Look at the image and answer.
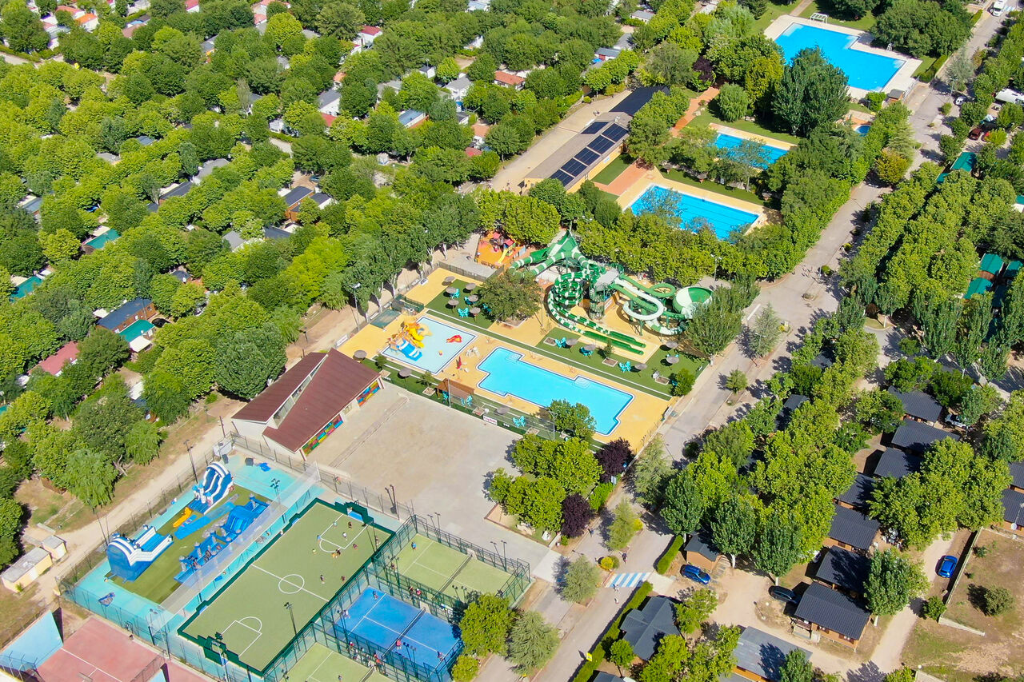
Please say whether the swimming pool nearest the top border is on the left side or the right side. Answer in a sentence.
The swimming pool nearest the top border appears in the right half of the scene.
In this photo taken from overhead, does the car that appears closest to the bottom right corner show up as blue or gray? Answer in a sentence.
The car that appears closest to the bottom right corner is blue.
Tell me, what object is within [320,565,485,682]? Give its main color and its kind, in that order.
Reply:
blue sports court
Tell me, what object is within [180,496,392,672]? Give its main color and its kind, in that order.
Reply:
green sports court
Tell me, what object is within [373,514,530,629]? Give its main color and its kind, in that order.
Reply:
green sports court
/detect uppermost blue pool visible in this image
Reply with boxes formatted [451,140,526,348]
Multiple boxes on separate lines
[759,21,909,93]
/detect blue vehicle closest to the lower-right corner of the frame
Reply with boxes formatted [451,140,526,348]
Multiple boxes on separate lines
[937,553,958,576]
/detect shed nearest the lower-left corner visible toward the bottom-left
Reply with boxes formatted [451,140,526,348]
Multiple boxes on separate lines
[0,546,55,595]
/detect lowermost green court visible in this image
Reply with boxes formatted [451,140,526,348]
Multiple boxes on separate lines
[262,622,431,682]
